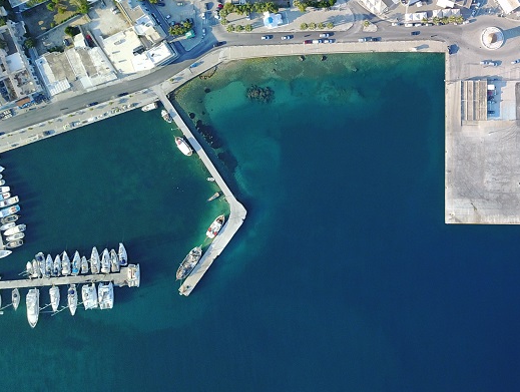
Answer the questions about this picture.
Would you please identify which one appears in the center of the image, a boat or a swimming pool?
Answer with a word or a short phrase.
boat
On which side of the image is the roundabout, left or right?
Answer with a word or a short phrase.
right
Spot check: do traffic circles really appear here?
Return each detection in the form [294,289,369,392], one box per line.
[451,0,520,78]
